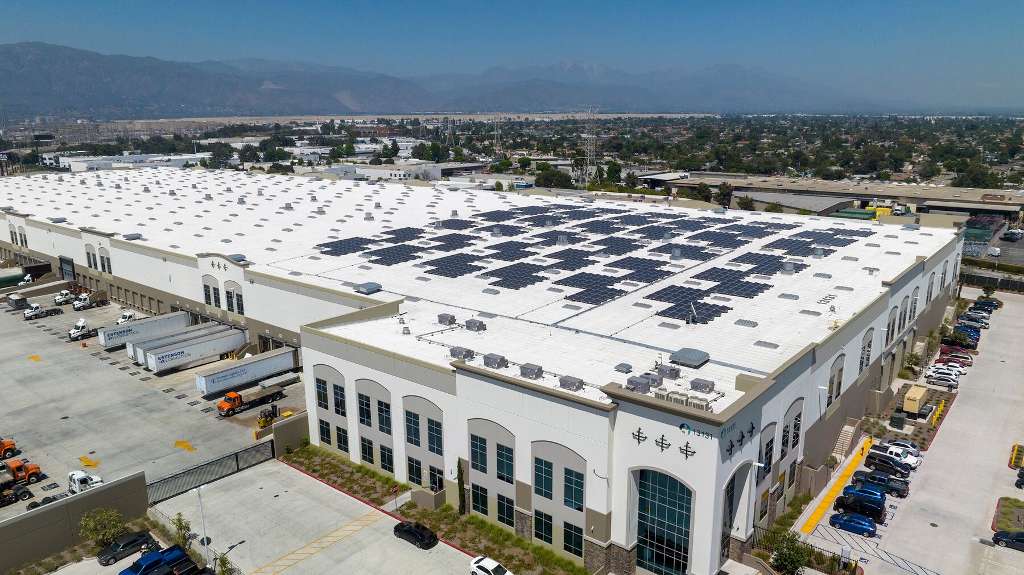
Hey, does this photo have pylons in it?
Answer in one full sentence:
Yes, I can see a pylon in this picture.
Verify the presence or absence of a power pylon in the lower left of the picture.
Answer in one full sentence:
No, I see no power pylon in the lower left of the picture.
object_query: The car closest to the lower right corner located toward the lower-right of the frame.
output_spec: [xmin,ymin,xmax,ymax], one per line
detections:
[992,529,1024,551]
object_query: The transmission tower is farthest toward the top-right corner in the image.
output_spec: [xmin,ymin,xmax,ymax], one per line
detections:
[578,105,604,186]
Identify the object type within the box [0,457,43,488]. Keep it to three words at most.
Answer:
truck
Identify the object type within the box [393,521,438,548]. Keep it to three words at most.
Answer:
car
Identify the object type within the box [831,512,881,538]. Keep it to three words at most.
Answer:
car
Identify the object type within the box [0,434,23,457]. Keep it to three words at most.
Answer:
truck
